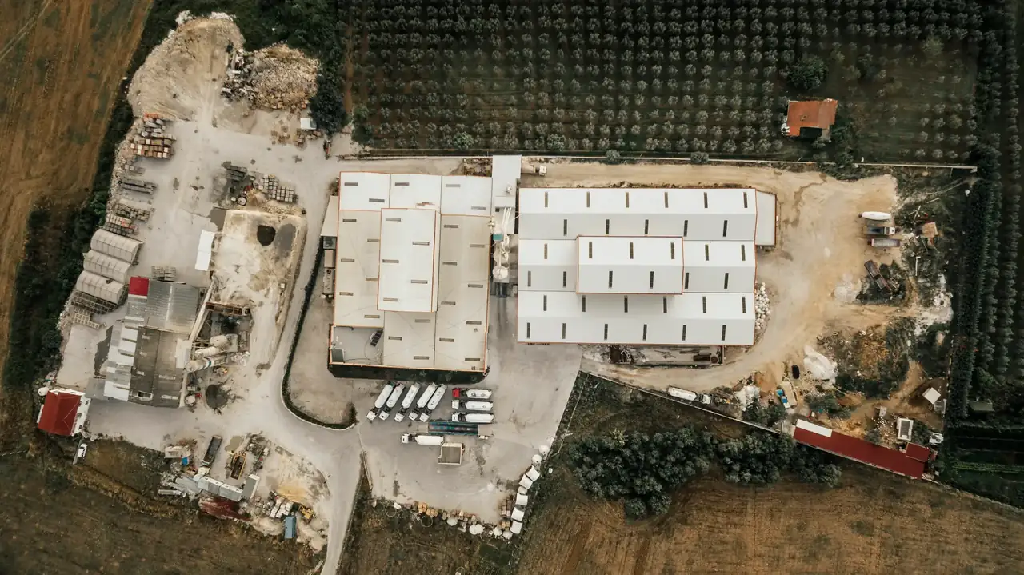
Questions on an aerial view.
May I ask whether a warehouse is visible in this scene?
Yes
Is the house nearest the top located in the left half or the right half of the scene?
right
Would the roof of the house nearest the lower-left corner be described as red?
Yes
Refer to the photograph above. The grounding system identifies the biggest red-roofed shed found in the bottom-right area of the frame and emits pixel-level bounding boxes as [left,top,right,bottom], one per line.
[791,419,925,480]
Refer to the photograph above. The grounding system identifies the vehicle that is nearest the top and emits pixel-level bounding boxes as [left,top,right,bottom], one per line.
[299,117,318,129]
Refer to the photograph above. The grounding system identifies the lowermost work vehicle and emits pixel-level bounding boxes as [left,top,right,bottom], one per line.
[294,499,317,518]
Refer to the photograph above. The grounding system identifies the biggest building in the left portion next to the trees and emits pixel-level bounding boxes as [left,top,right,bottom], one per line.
[327,172,492,373]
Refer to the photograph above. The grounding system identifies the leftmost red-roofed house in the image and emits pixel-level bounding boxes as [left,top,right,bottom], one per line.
[38,389,95,437]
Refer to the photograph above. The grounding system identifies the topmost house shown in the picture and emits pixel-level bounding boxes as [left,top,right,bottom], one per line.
[784,99,838,138]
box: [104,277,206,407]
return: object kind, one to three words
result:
building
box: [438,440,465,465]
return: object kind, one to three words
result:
building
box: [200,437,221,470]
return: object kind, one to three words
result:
truck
